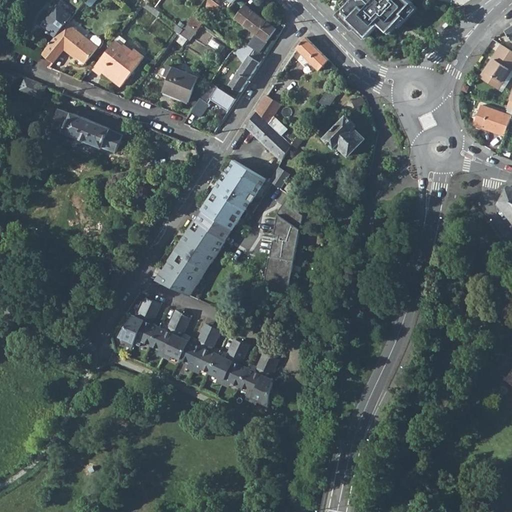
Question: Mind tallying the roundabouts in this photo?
2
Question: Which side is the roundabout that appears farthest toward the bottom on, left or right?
right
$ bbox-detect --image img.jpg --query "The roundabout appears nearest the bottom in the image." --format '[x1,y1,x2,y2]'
[412,124,466,174]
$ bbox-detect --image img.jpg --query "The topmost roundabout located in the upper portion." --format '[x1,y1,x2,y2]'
[391,66,453,119]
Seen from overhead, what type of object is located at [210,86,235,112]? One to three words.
building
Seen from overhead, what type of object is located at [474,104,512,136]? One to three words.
house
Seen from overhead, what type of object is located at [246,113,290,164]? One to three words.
shed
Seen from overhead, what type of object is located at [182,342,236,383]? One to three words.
house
